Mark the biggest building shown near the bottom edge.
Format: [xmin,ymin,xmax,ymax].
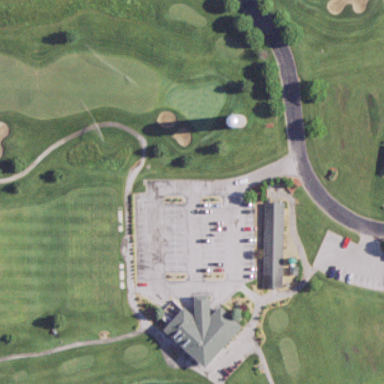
[162,296,241,366]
